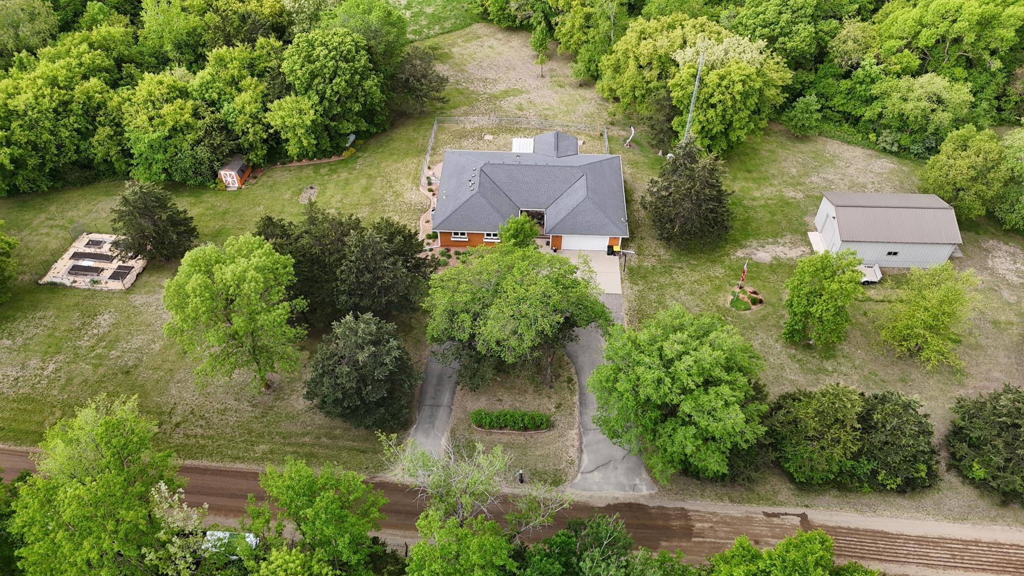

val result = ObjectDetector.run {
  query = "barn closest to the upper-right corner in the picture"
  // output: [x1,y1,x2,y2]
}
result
[804,191,963,269]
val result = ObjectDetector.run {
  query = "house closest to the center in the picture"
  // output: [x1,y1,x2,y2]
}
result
[431,131,635,254]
